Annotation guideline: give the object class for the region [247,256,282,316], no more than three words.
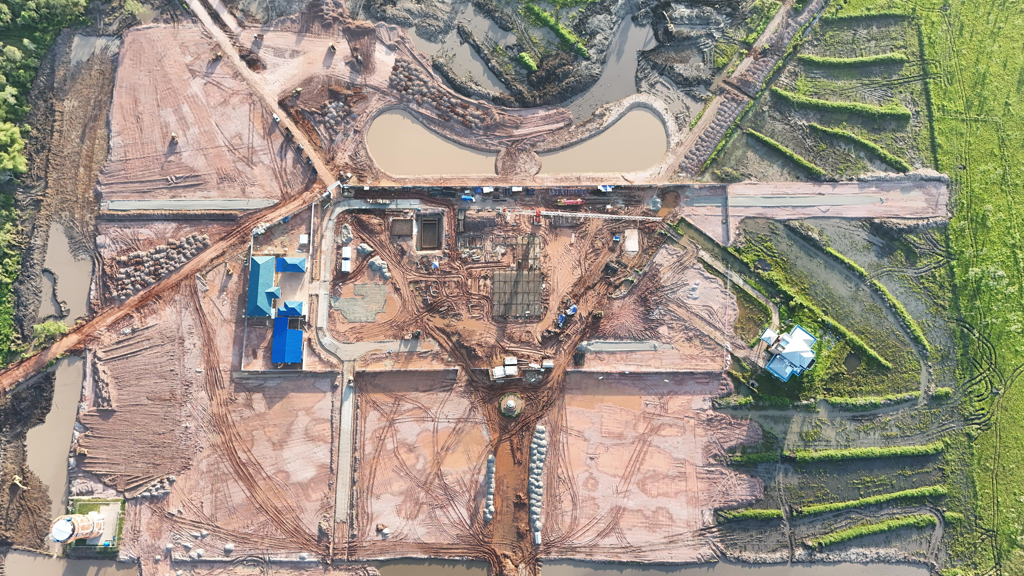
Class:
building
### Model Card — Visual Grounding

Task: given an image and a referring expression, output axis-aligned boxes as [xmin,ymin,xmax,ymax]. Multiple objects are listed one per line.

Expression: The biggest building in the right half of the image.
[758,324,818,382]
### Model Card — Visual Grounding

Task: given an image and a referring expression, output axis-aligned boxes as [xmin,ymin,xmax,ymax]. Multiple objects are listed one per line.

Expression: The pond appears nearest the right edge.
[539,108,666,174]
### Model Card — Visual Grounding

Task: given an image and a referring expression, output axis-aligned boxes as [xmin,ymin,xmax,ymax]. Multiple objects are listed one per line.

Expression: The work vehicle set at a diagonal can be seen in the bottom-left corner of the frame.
[7,472,27,490]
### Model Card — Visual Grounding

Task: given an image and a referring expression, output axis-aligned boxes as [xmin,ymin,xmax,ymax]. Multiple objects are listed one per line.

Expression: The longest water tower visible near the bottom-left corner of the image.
[51,510,109,546]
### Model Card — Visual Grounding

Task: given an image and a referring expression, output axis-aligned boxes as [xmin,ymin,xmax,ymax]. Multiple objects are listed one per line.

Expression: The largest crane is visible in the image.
[499,207,662,228]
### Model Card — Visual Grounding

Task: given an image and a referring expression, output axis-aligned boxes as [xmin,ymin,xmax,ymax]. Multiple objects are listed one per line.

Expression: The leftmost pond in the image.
[367,110,496,175]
